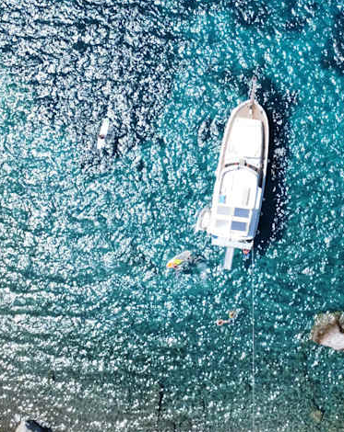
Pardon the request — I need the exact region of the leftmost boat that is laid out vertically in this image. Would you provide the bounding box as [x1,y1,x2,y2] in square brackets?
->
[194,205,211,238]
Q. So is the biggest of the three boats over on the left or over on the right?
right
